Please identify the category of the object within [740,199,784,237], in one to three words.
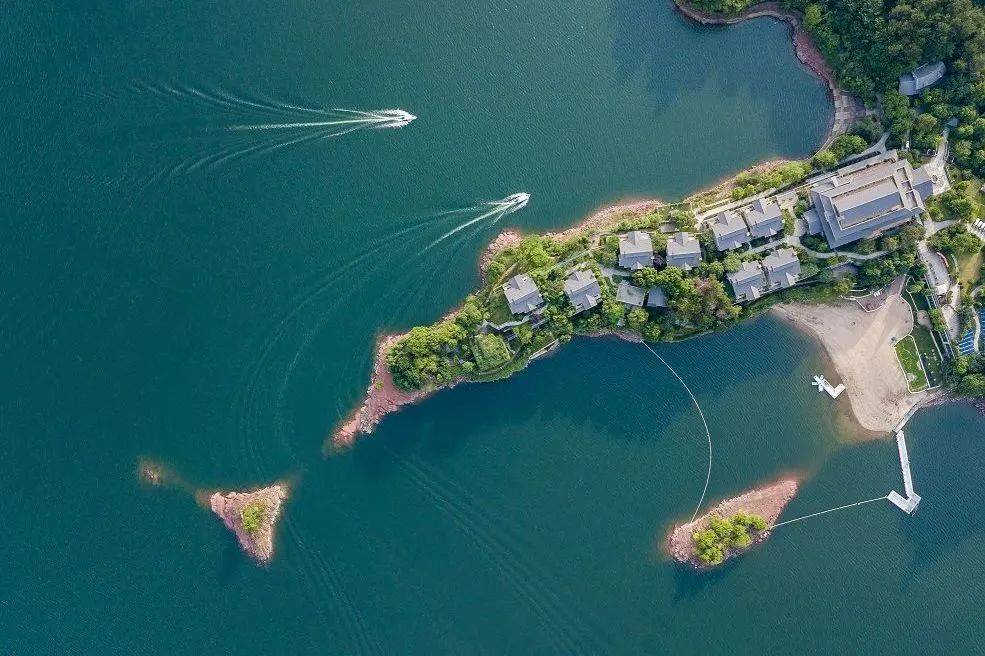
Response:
house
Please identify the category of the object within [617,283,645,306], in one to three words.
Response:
house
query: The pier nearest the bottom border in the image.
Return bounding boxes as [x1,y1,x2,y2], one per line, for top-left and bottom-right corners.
[888,430,921,513]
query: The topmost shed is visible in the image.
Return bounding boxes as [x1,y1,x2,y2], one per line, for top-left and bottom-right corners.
[892,64,945,95]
